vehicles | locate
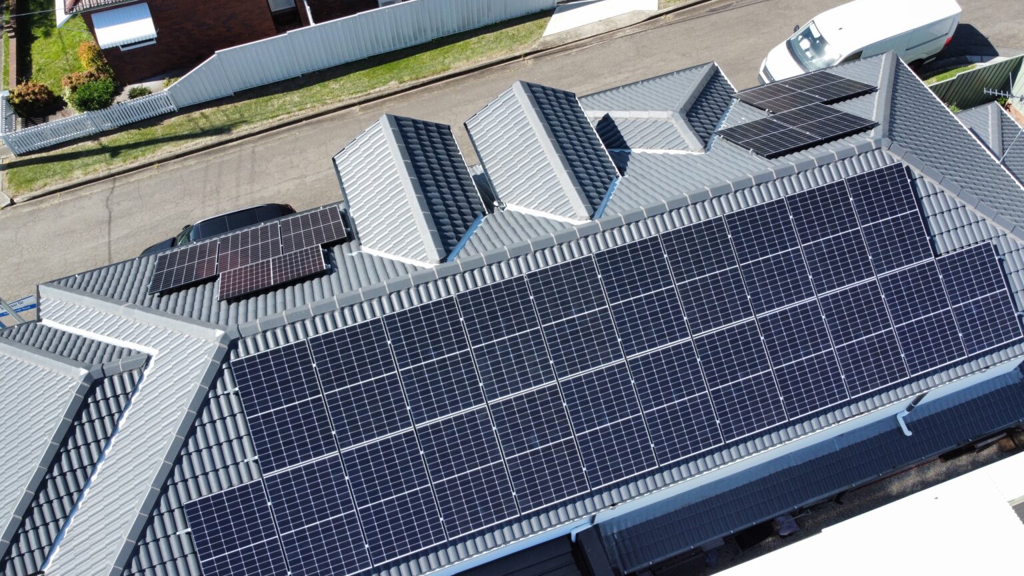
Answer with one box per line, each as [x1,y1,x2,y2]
[753,0,960,84]
[120,200,300,254]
